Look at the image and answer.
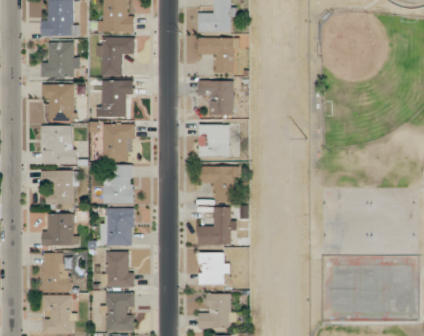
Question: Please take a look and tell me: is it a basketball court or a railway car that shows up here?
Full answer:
It is a basketball court that can be seen here.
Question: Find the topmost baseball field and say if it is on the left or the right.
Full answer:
The topmost baseball field appears in the right half of the scene.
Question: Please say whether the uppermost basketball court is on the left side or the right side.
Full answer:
The uppermost basketball court is on the right side of the image.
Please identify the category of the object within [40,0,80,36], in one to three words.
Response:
house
